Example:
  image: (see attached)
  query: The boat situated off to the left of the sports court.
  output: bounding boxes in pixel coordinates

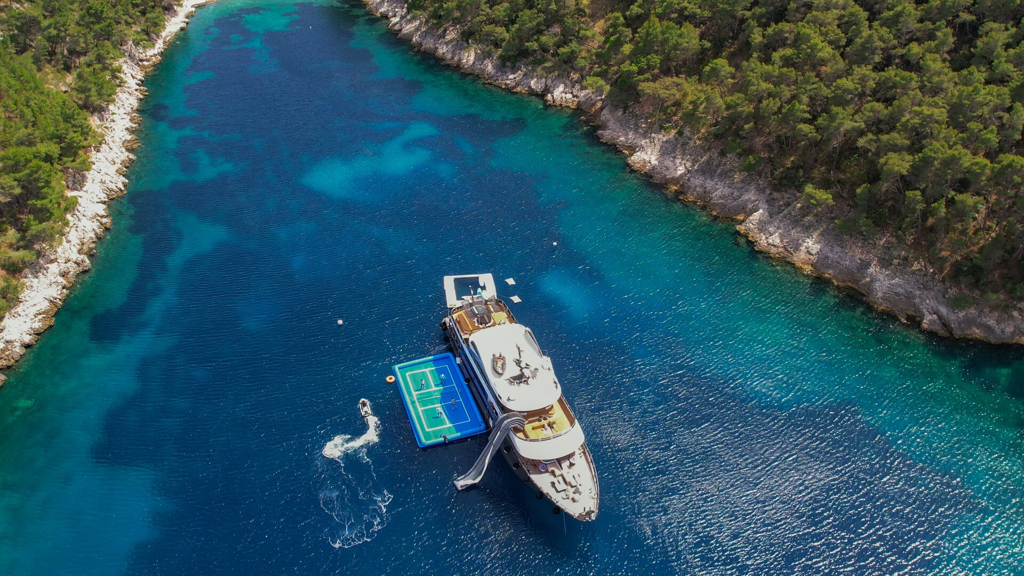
[359,399,371,419]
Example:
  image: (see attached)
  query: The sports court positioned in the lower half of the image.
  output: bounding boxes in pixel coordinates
[391,351,486,448]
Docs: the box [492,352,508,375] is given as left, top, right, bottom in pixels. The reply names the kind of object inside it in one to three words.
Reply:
boat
